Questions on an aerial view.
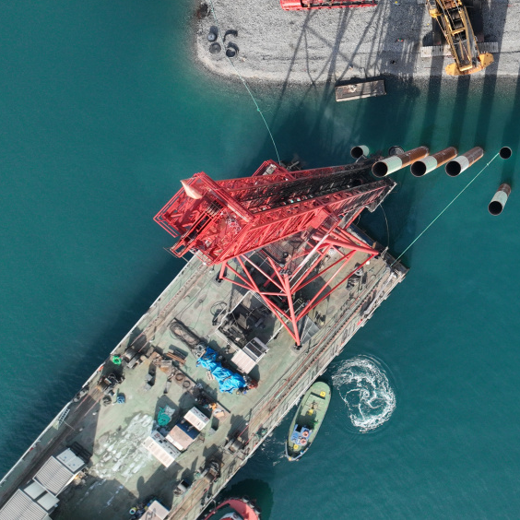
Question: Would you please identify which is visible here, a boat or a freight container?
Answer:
boat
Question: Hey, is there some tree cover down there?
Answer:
No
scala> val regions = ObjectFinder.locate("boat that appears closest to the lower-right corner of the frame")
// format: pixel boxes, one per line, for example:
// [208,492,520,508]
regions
[284,379,334,461]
